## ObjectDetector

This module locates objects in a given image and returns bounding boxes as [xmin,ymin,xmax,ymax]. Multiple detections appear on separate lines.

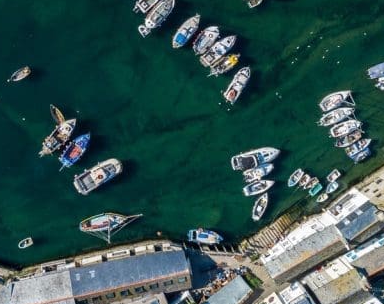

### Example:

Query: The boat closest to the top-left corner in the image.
[6,69,30,83]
